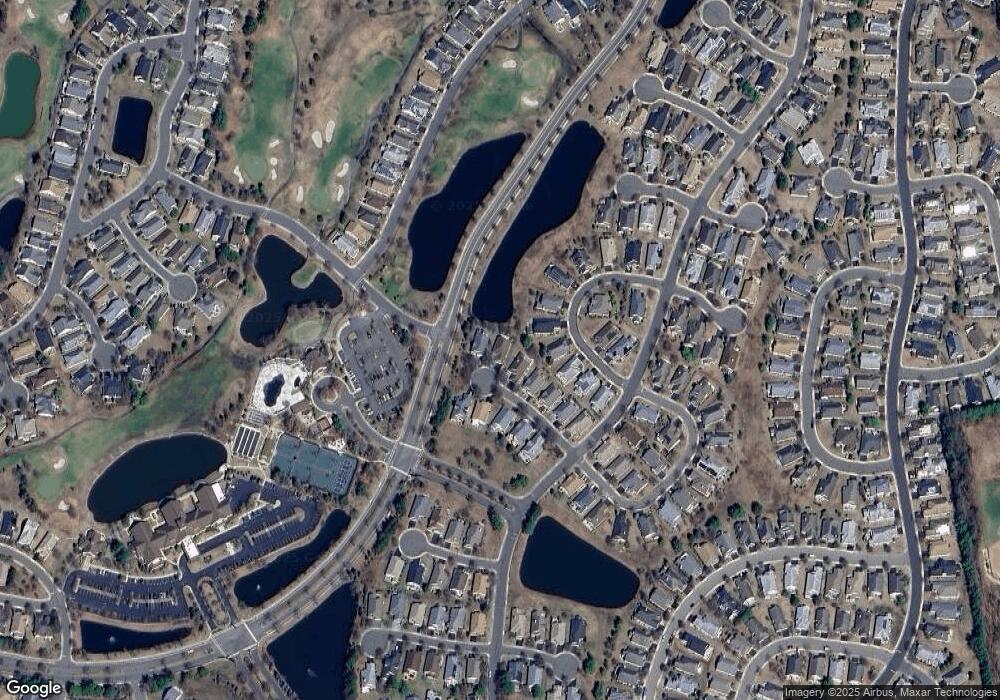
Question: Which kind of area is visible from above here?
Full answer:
This looks like a residential area.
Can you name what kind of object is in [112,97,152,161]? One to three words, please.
pond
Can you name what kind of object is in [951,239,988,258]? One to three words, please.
house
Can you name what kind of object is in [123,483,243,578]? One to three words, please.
building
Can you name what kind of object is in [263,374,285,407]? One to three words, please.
swimming pool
